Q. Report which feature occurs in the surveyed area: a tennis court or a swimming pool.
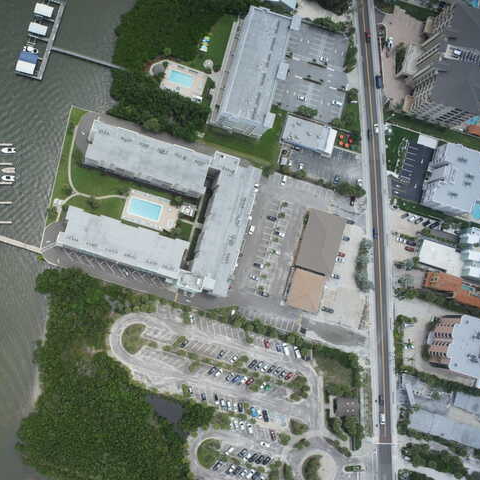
swimming pool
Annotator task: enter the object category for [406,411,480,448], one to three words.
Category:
building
